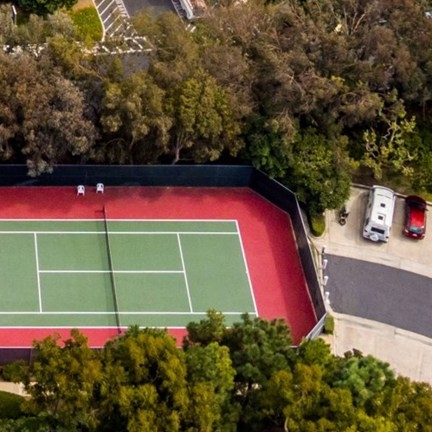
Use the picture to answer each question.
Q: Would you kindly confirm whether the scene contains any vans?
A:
Yes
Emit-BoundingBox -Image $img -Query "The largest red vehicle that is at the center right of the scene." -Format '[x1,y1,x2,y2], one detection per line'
[403,194,431,238]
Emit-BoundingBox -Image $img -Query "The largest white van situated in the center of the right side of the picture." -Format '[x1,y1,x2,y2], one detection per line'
[361,186,397,242]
